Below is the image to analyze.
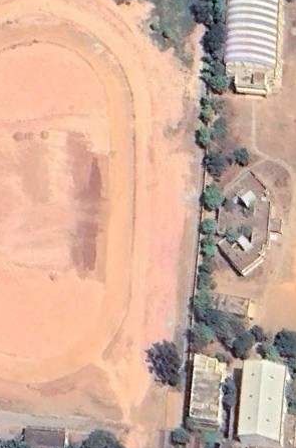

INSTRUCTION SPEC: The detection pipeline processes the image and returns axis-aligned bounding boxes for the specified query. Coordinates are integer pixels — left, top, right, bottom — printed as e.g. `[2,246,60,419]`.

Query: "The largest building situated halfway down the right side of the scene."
[218,171,270,277]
